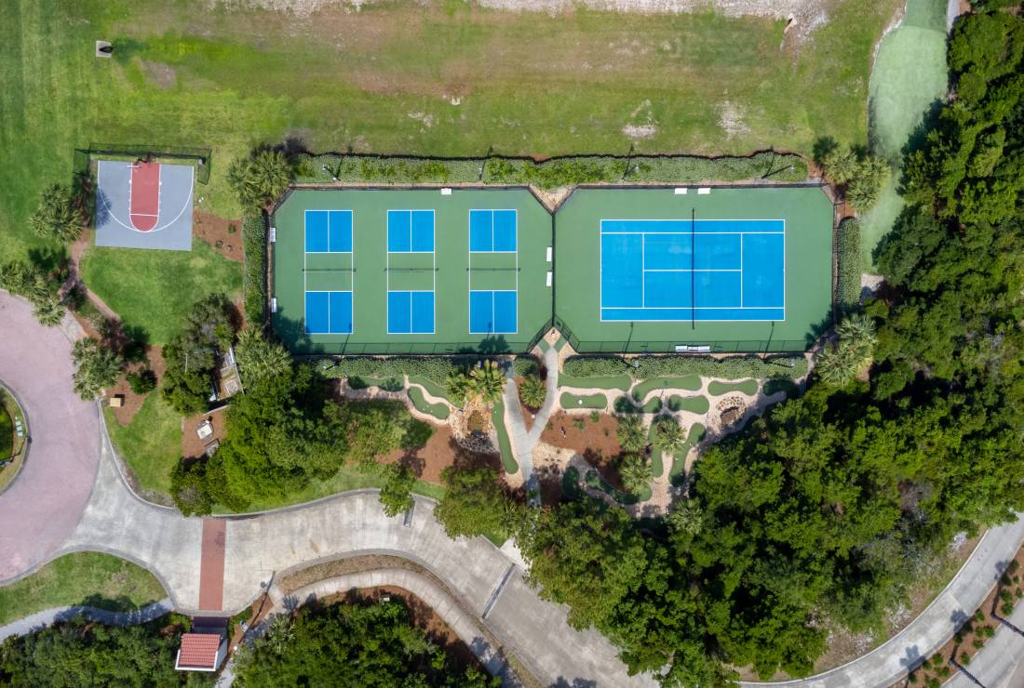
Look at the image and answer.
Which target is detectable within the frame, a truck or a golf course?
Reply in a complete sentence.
The image shows a golf course.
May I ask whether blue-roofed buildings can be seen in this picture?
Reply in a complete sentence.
No, there appears to be no blue-roofed building in this shot.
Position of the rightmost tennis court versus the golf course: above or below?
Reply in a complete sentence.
In the image, the rightmost tennis court appears above the golf course.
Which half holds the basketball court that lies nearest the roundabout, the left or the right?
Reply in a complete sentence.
The basketball court that lies nearest the roundabout sits on the left side.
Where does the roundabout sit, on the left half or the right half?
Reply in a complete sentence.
The roundabout is on the left side of the image.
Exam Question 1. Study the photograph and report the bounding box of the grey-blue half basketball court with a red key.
[95,160,194,251]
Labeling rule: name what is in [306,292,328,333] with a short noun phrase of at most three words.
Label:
sports court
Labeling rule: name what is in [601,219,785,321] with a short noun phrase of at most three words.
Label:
tennis court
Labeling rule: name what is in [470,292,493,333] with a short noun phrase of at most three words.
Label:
sports court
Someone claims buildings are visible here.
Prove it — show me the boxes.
[178,617,229,672]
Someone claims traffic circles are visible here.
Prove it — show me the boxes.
[0,290,101,582]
